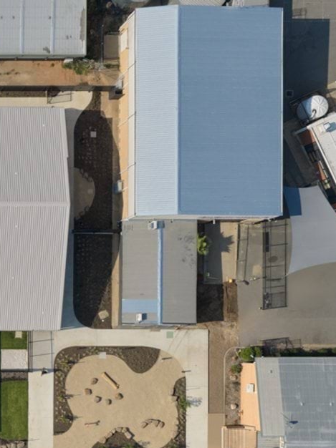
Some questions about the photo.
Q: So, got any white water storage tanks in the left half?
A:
No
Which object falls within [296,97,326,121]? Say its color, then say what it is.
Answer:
white water tank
